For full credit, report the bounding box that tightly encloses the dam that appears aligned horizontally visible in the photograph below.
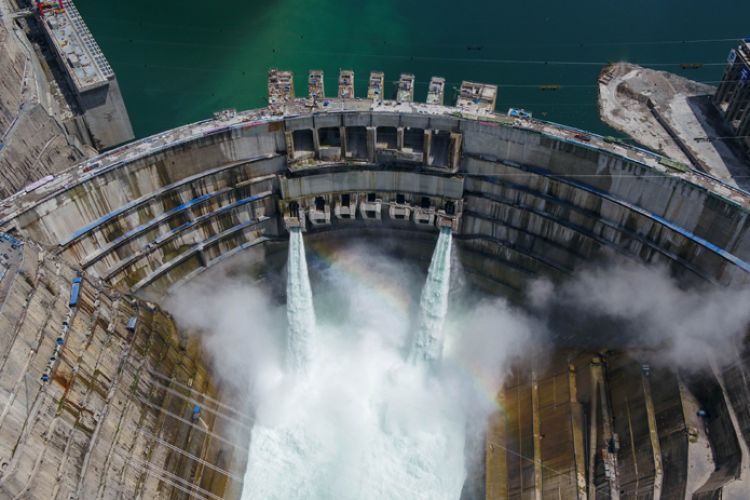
[0,70,750,352]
